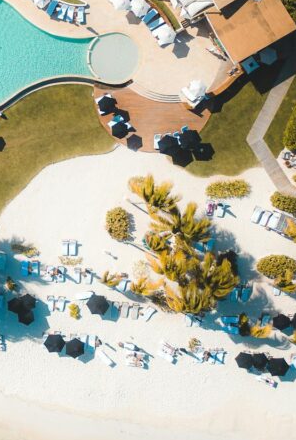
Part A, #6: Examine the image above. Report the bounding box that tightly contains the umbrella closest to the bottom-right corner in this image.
[269,356,289,378]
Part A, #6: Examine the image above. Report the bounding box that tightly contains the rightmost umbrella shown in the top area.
[256,47,279,68]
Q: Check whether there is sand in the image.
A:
Yes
